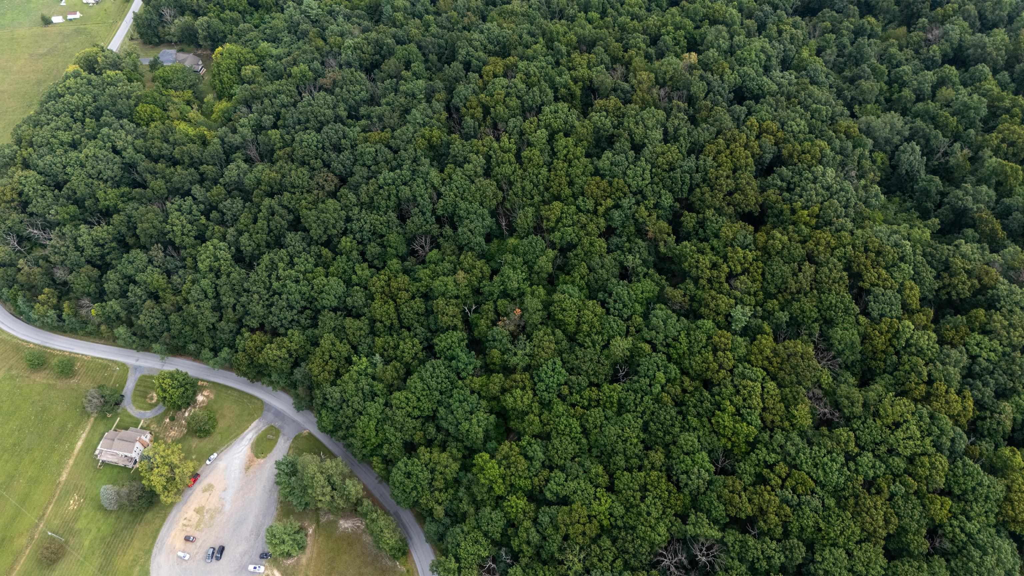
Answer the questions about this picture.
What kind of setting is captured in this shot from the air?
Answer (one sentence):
It's a forest.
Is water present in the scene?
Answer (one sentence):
No, water can't be seen anywhere here.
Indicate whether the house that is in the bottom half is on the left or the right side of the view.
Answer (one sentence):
The house that is in the bottom half appears in the left half of the scene.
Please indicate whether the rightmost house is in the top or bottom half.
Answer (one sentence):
The rightmost house sits in the top half of the picture.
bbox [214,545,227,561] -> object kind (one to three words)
vehicle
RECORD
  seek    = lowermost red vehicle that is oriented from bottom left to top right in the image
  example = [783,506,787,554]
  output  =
[187,473,202,489]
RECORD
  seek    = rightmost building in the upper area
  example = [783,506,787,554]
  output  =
[170,51,206,77]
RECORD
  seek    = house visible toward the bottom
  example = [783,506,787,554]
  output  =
[96,427,151,474]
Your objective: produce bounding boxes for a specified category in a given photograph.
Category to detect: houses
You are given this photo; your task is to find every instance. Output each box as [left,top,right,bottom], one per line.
[170,51,206,77]
[96,427,151,474]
